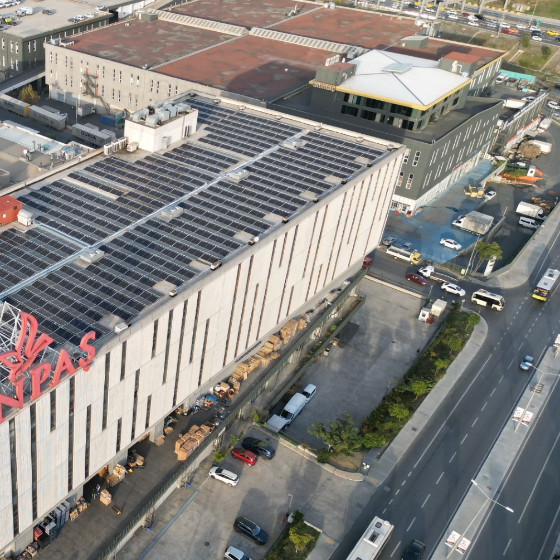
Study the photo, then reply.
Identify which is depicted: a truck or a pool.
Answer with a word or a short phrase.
truck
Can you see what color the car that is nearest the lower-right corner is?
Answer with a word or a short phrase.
black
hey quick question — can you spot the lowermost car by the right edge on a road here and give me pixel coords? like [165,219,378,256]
[518,350,537,370]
